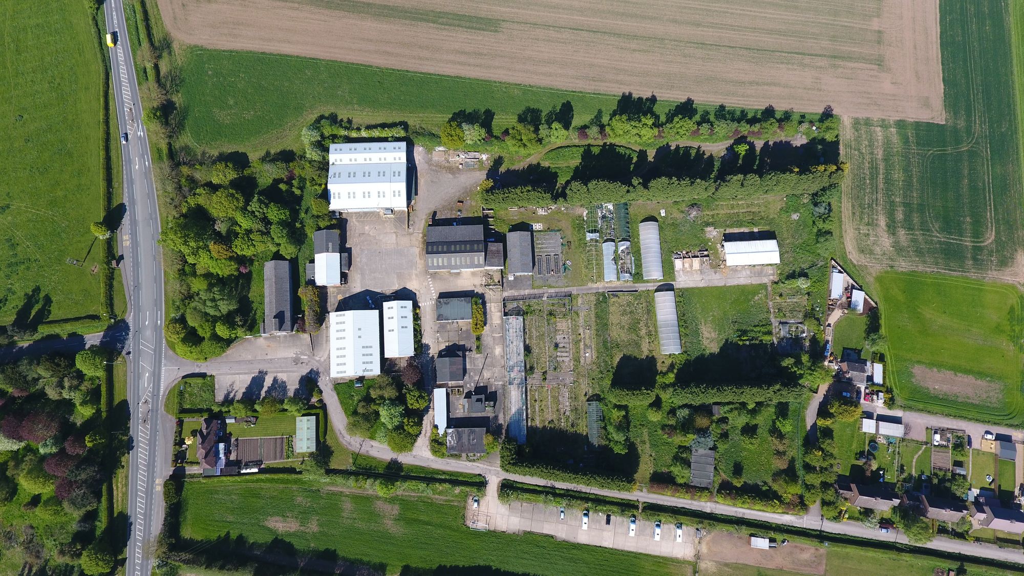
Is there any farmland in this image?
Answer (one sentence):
Yes, some farmland is visible.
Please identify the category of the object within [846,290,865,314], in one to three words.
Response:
shed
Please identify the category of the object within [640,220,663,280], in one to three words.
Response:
greenhouse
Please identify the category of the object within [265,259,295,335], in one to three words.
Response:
building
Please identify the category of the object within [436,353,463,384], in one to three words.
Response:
house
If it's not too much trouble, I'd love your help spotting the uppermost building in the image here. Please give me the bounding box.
[328,141,407,167]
